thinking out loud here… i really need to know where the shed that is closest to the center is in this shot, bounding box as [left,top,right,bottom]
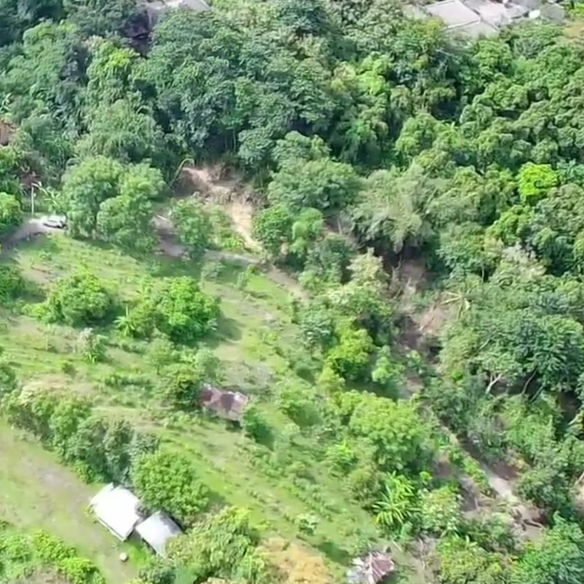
[198,385,252,425]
